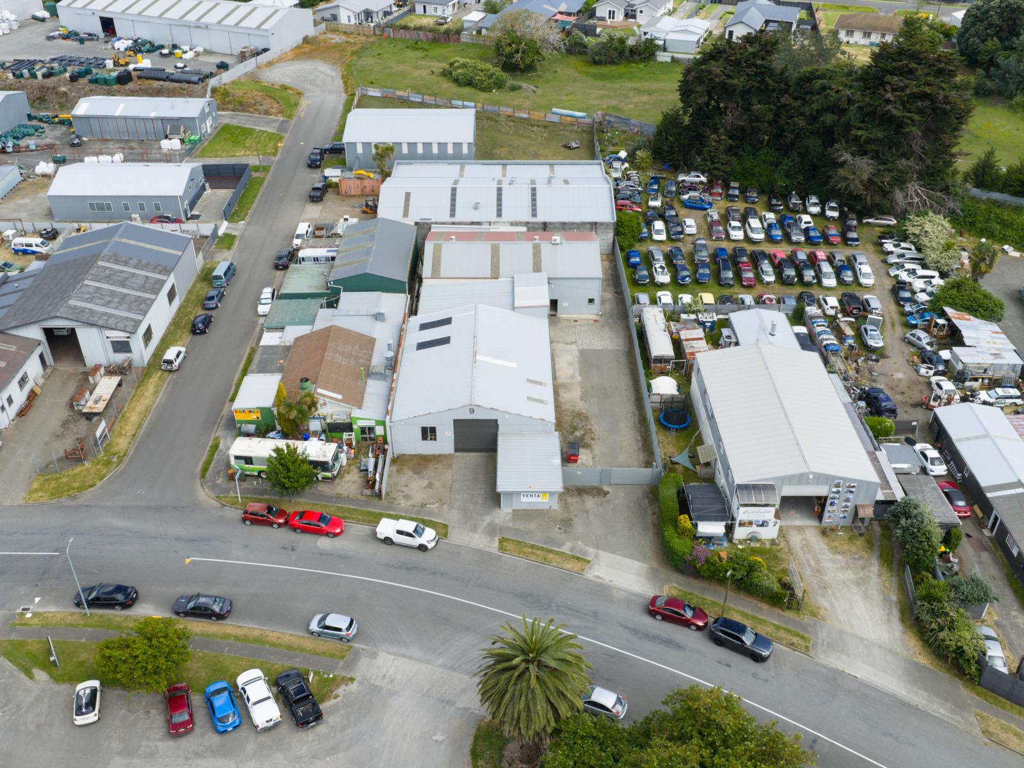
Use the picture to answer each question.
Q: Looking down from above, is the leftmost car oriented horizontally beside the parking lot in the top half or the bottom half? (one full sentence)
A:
The bottom half of the photo is where the leftmost car oriented horizontally beside the parking lot is.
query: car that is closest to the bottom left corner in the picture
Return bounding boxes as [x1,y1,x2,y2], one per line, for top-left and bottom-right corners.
[70,678,103,732]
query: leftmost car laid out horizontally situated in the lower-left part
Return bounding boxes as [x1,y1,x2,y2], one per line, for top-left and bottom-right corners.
[73,583,140,611]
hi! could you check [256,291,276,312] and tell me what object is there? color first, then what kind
white car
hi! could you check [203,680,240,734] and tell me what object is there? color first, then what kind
blue car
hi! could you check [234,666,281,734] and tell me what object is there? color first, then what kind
white truck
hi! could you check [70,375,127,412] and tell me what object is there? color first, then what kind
white trailer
